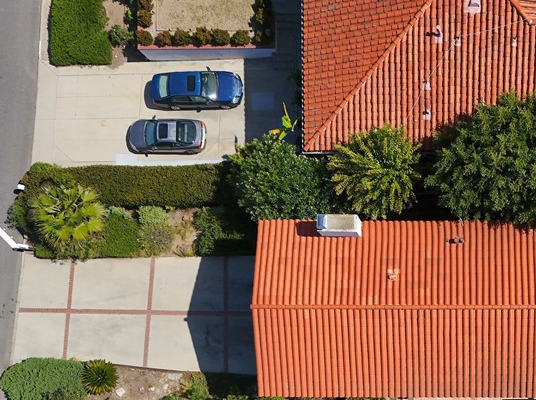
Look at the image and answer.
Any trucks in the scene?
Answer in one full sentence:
No, I can see no truck in this picture.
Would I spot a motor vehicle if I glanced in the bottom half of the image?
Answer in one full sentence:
No, no motor vehicle can be made out in the bottom half of the image.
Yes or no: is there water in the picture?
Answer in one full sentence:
No, the picture contains no water.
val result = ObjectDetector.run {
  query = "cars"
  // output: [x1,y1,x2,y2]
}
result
[150,67,245,114]
[128,113,208,158]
